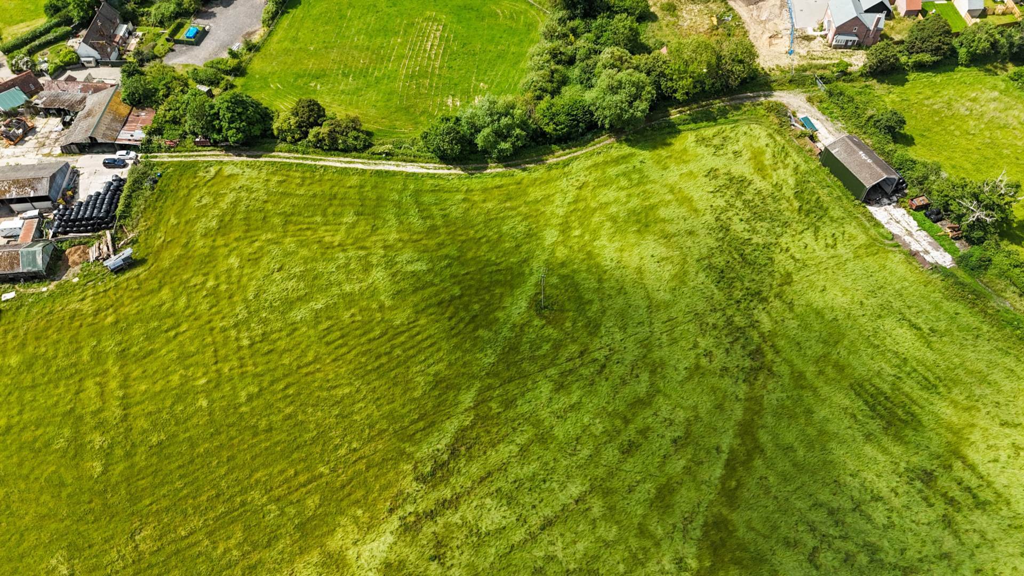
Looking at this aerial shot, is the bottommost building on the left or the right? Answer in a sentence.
It is on the left.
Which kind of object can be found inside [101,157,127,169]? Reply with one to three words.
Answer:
vehicle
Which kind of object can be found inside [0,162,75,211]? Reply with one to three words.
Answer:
barn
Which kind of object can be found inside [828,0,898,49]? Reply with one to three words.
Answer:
house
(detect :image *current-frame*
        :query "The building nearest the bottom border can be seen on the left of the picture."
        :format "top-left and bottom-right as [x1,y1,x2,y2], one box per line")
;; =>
[0,237,61,282]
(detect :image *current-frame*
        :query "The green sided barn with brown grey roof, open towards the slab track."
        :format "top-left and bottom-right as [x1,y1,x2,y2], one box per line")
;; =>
[822,135,903,197]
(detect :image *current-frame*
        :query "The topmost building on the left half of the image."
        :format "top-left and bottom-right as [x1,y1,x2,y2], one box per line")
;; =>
[76,0,134,68]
